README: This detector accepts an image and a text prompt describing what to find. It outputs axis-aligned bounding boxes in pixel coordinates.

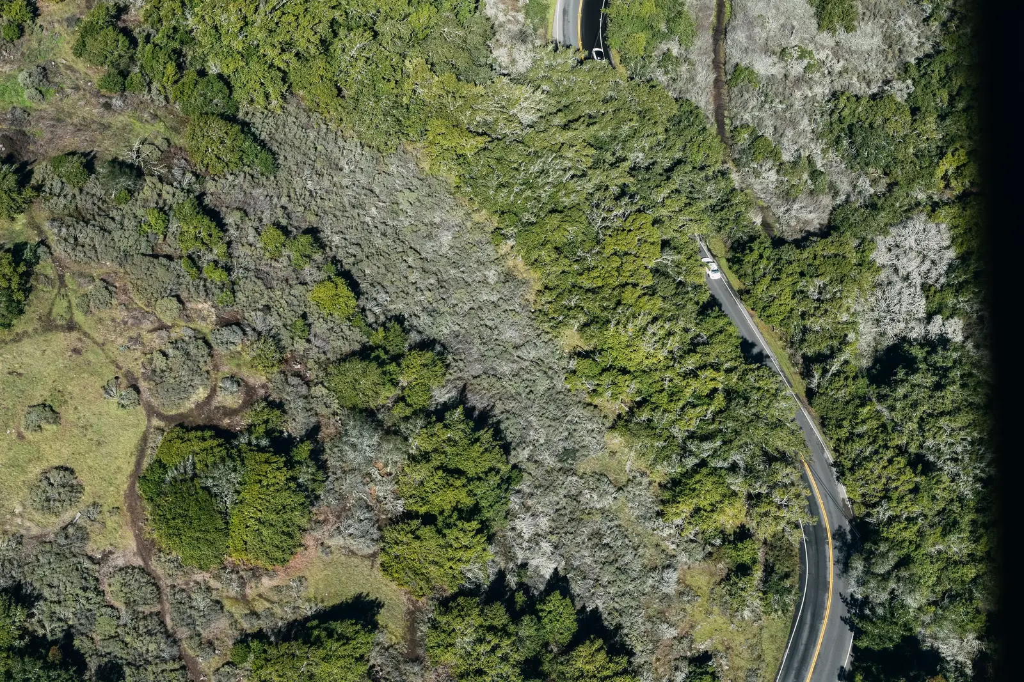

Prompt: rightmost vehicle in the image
[701,258,719,281]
